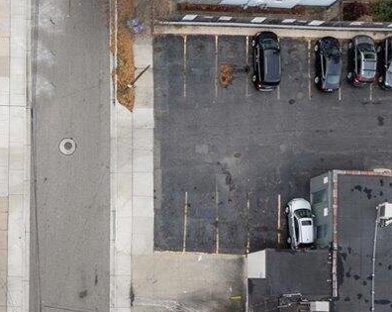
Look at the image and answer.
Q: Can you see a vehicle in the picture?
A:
Yes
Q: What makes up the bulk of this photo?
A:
paved ground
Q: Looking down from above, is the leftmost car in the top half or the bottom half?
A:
top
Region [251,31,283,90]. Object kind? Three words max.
car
